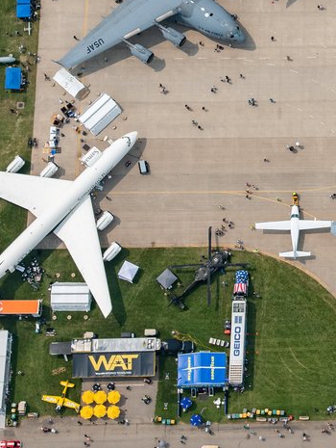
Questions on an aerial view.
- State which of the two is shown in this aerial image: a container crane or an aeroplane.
aeroplane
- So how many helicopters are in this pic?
1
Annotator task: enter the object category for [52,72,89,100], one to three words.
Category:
tent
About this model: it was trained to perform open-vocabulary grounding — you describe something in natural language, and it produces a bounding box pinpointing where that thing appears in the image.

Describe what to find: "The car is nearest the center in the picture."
[136,155,149,181]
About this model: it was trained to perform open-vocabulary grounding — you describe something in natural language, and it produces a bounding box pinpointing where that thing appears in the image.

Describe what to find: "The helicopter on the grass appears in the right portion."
[168,228,250,308]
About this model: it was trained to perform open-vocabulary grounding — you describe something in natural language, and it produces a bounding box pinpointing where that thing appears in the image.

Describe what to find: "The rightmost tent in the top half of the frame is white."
[74,89,125,140]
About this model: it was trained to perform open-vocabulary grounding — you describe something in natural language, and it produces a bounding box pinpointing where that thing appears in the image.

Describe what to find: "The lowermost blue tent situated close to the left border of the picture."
[5,69,23,91]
